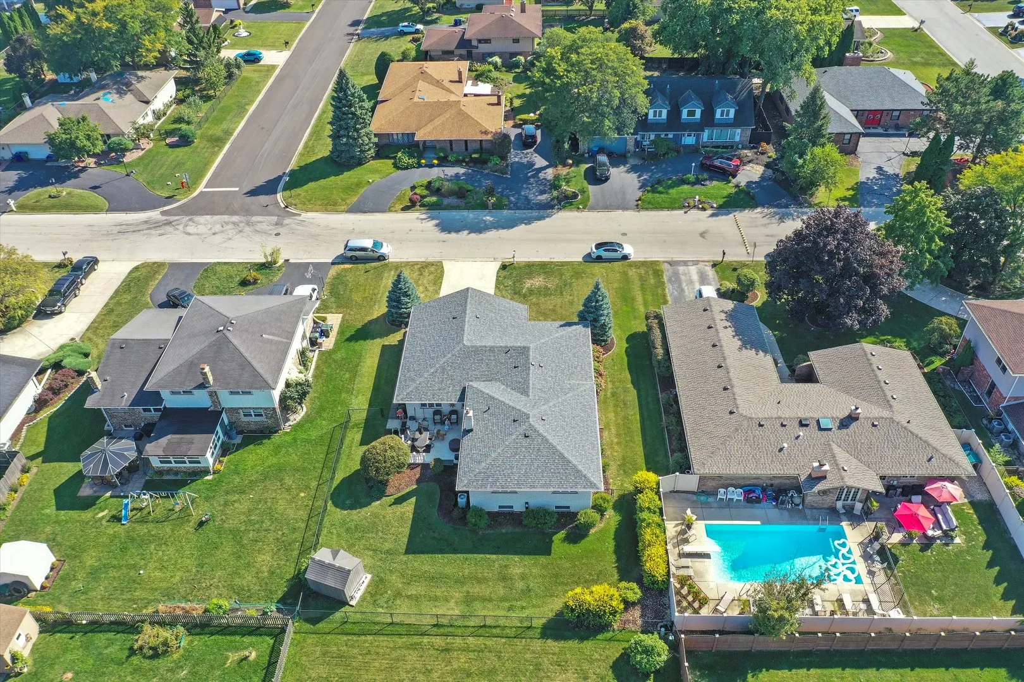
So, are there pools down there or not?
Yes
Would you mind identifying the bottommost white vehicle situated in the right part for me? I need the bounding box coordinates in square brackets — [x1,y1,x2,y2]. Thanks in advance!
[694,286,718,299]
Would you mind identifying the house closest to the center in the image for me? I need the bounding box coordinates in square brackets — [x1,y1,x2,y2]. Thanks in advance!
[391,290,605,517]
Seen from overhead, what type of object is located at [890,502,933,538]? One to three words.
umbrella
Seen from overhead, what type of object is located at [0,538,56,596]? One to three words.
shed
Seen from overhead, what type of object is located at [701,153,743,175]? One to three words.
car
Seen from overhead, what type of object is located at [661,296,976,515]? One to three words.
house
